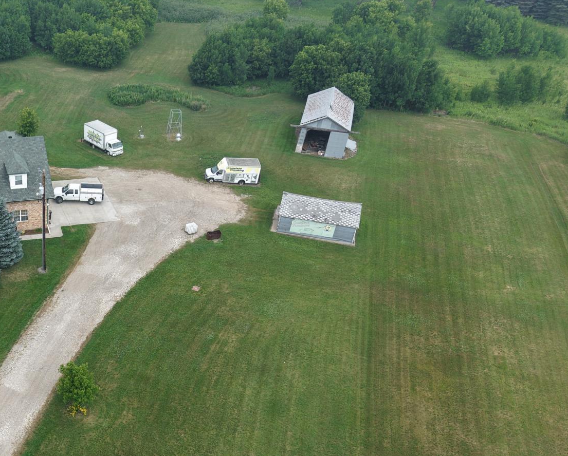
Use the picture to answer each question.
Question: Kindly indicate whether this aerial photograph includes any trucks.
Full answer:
Yes, the image includes a truck.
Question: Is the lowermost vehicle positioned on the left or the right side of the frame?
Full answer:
The lowermost vehicle sits on the left side.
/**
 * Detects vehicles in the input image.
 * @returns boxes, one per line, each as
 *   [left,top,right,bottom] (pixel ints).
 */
[77,118,123,155]
[204,154,259,185]
[51,184,104,205]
